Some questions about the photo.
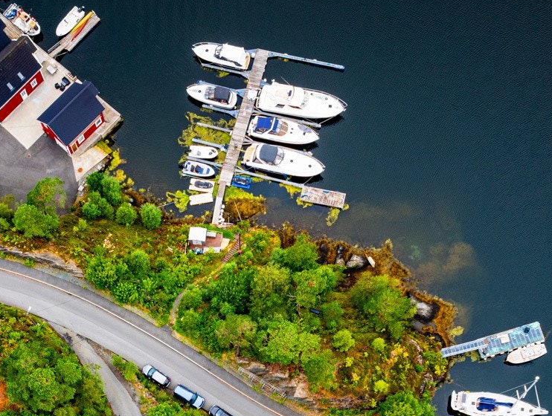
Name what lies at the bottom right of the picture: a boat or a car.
boat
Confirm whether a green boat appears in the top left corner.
No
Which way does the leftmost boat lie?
diagonally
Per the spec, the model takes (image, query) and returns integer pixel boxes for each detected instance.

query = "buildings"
[188,227,230,253]
[37,81,105,151]
[0,36,44,119]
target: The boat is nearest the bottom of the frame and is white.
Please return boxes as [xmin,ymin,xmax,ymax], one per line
[449,383,552,416]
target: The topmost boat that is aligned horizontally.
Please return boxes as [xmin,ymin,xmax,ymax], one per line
[192,40,252,71]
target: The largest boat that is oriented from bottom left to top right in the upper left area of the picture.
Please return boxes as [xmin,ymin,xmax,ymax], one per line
[56,1,86,37]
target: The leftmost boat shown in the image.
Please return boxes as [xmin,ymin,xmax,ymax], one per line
[5,3,35,36]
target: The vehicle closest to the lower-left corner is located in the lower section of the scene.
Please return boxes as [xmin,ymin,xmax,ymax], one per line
[142,364,171,387]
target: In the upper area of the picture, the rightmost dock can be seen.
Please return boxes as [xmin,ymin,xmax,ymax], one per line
[186,48,342,224]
